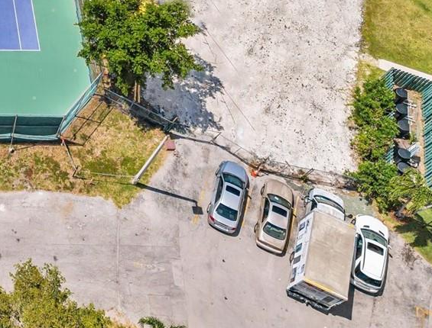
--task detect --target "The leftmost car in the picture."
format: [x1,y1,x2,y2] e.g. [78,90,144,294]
[206,160,248,237]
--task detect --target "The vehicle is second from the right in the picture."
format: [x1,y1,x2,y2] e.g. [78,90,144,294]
[286,180,356,311]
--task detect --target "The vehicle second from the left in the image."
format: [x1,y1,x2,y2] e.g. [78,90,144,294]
[253,175,296,256]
